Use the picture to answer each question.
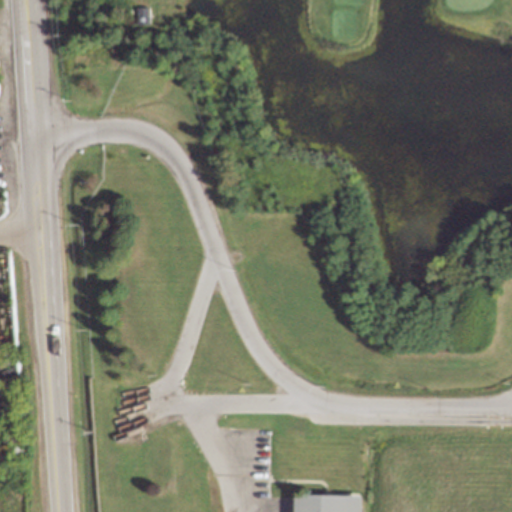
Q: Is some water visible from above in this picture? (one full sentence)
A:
Yes, water shows up in the scene.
